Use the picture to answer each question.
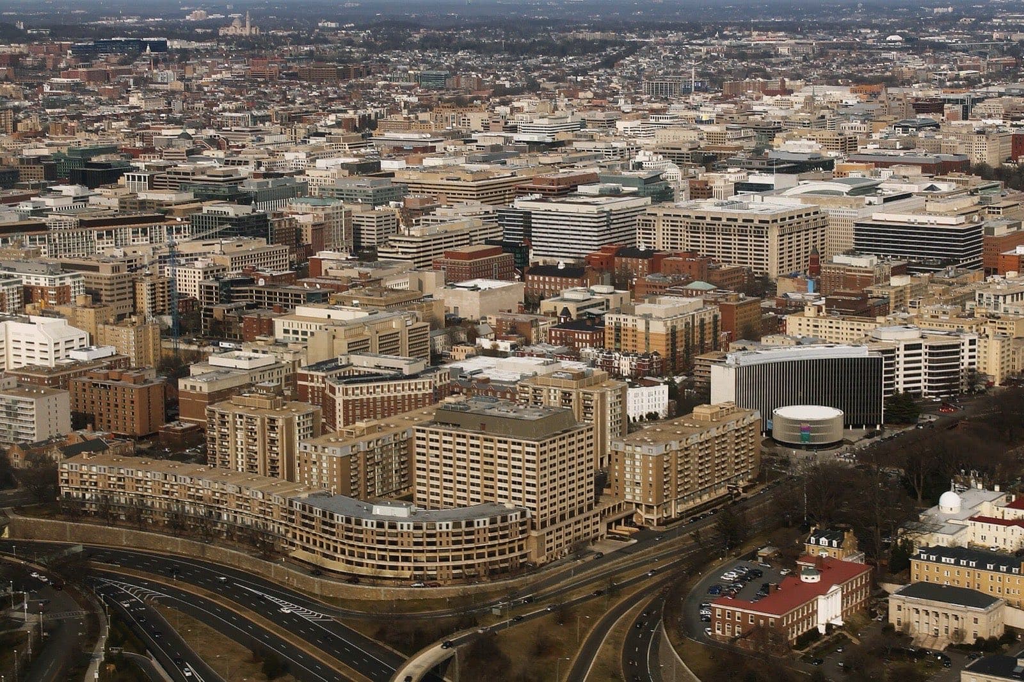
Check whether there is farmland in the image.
No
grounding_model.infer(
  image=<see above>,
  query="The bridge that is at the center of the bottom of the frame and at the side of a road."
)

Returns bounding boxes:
[388,634,506,682]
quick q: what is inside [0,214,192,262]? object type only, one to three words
building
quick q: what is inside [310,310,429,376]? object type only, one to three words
building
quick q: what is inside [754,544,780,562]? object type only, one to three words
shed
